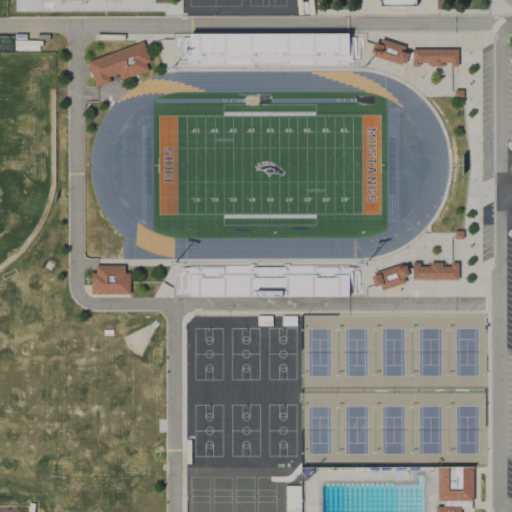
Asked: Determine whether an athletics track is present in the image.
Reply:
Yes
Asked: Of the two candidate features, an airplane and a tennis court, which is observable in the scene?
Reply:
tennis court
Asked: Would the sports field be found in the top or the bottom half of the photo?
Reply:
top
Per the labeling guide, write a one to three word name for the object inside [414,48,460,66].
building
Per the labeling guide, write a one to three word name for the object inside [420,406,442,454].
tennis court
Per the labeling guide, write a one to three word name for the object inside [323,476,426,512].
swimming pool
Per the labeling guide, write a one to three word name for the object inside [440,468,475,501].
building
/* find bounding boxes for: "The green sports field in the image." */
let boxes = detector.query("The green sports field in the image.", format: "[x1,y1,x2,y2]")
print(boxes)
[154,90,387,240]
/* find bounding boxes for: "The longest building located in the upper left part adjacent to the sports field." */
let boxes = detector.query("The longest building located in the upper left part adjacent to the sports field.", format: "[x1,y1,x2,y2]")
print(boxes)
[90,42,152,86]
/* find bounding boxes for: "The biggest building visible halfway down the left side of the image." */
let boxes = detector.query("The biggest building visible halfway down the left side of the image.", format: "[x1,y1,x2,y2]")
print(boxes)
[92,265,132,294]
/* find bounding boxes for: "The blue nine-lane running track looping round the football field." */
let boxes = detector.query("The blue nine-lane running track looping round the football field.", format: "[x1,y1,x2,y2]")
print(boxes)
[93,72,449,258]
